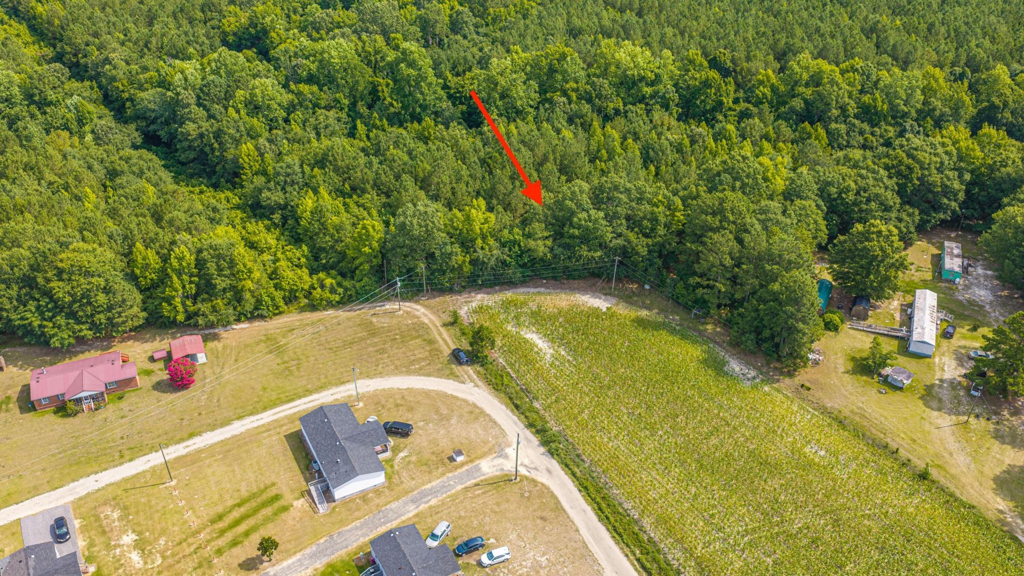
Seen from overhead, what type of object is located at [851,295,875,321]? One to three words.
shed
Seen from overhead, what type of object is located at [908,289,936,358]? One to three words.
house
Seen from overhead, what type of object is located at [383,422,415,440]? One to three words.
car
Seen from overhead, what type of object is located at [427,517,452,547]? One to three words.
car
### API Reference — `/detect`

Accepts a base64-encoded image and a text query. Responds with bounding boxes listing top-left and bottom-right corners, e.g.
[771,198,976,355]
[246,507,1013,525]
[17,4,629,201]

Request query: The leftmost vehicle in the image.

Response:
[52,515,70,543]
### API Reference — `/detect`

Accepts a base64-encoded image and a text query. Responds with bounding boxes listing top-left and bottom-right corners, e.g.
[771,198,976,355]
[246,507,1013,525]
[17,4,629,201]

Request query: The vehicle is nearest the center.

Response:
[451,348,470,365]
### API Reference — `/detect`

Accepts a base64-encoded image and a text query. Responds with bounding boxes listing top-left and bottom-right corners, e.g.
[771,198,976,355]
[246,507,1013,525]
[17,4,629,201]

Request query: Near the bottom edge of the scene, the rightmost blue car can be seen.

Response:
[453,535,487,559]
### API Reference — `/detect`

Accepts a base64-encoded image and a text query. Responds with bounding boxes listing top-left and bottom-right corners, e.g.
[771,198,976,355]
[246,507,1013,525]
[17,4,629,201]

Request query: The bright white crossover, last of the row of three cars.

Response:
[478,544,513,569]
